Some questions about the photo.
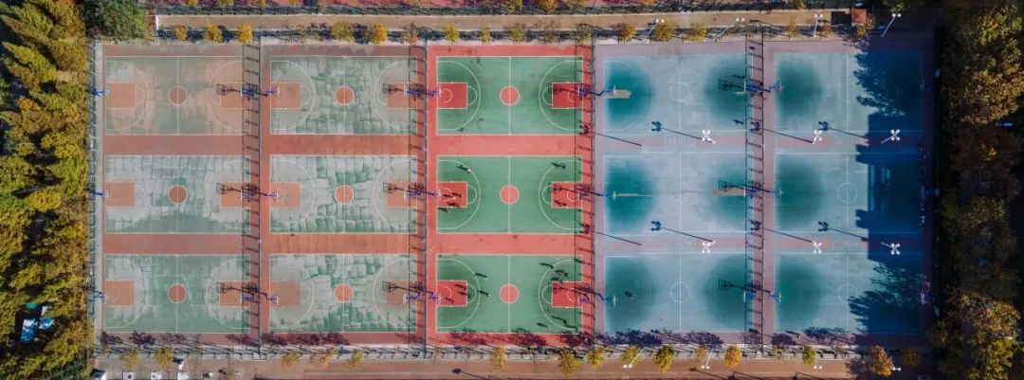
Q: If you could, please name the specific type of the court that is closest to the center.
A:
basketball court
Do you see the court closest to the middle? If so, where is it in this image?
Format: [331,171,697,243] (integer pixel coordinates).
[437,155,583,233]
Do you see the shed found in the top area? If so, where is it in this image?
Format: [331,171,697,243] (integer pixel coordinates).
[854,5,874,27]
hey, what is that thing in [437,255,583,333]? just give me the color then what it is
green basketball court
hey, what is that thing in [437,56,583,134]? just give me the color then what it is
green basketball court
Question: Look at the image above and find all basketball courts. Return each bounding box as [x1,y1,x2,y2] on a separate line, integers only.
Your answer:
[106,155,251,233]
[605,145,752,250]
[437,155,583,233]
[106,255,251,333]
[437,255,583,333]
[106,56,251,134]
[605,244,752,333]
[774,244,923,333]
[605,53,752,151]
[271,155,416,233]
[774,53,923,151]
[437,56,583,134]
[774,145,923,250]
[271,255,416,333]
[271,56,416,134]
